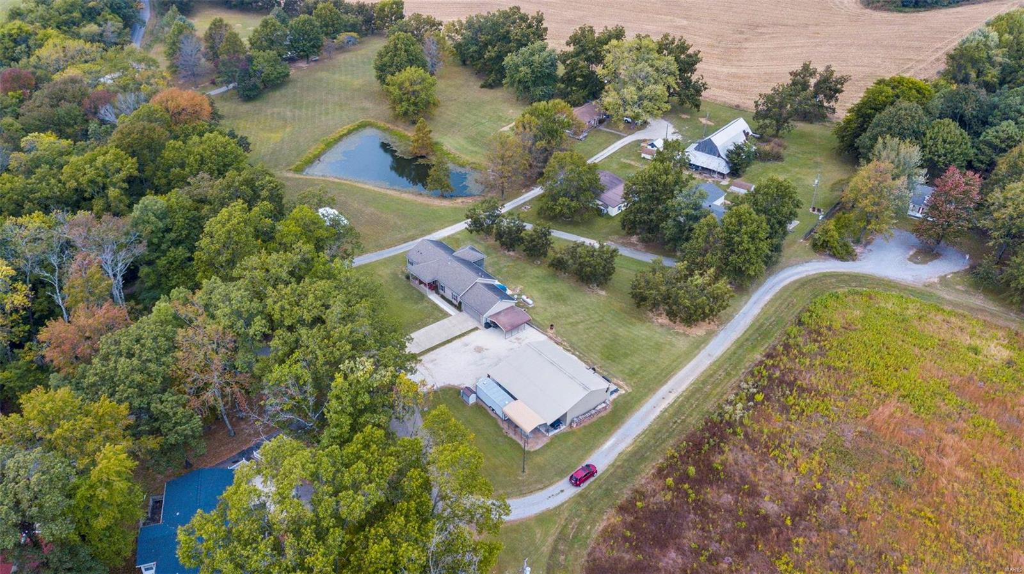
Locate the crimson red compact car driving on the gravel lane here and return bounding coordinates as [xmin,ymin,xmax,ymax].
[568,466,599,491]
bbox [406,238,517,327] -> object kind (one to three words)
house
